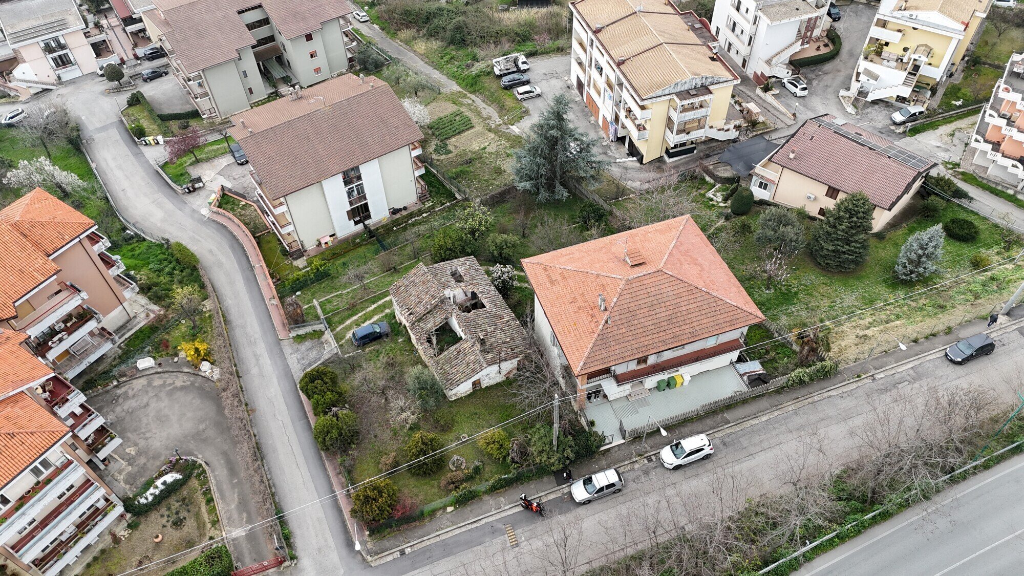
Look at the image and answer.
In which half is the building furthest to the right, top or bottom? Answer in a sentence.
It is in the top half that the building furthest to the right appears.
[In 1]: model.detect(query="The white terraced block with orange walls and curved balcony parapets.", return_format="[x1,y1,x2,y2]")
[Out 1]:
[960,66,1024,181]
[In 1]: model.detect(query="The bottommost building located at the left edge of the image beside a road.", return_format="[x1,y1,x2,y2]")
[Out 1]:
[0,189,163,576]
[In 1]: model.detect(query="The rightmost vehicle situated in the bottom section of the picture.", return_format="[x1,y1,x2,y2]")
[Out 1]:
[950,335,1006,367]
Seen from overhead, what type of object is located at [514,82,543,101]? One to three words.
car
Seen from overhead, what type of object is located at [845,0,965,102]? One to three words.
house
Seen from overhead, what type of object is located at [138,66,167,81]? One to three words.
car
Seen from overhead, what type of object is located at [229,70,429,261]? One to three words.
building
